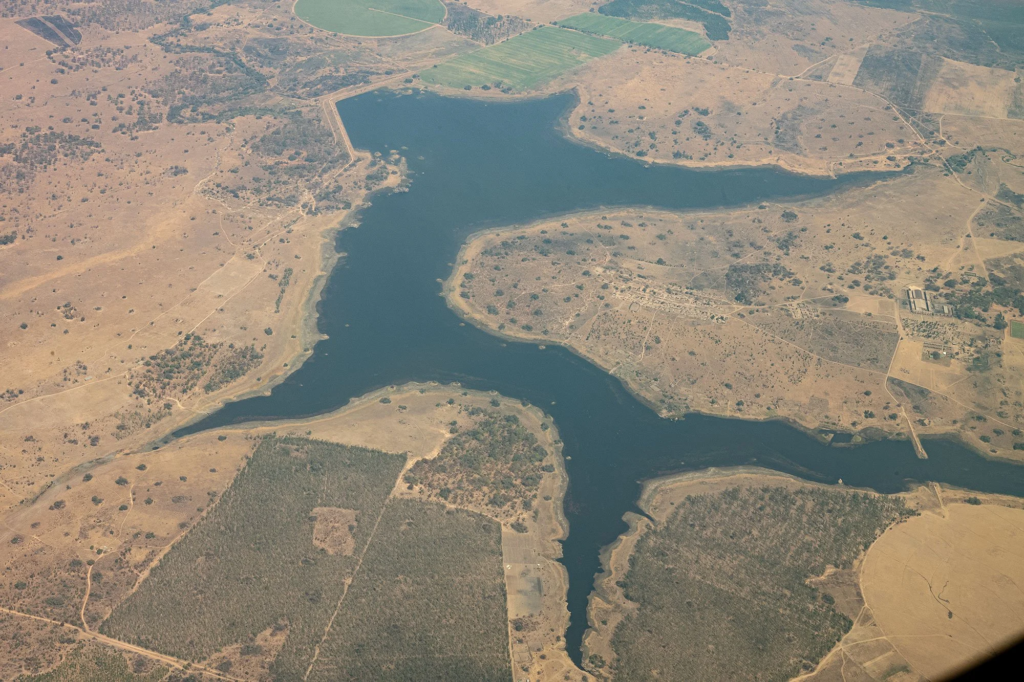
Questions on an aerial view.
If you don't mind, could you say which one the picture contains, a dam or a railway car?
dam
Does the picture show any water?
Yes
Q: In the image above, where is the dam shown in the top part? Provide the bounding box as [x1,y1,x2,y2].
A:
[327,71,411,157]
